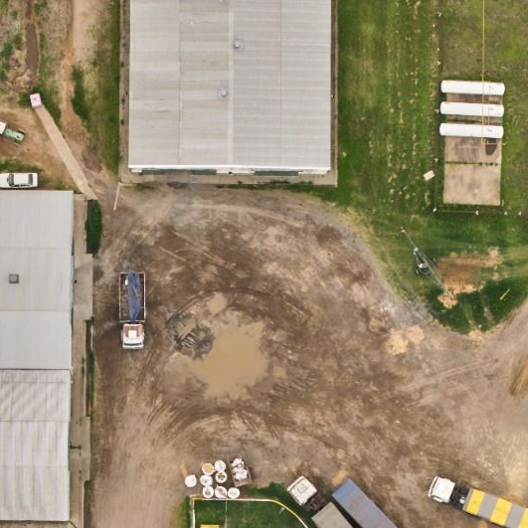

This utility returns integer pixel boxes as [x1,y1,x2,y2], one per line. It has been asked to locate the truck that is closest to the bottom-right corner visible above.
[429,474,528,528]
